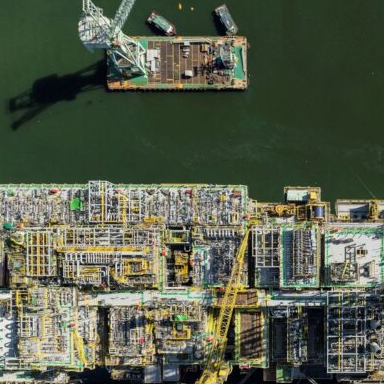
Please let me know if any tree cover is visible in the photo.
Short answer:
No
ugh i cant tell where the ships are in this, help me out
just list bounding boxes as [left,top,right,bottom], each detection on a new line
[106,37,247,93]
[0,181,384,384]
